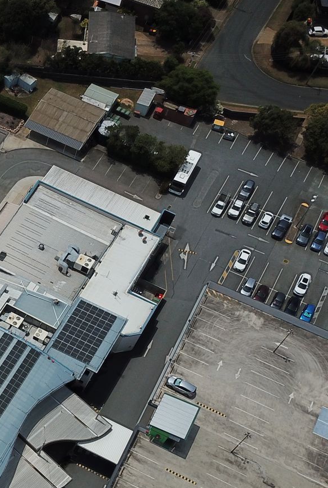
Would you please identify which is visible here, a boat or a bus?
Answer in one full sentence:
It is a bus that can be seen here.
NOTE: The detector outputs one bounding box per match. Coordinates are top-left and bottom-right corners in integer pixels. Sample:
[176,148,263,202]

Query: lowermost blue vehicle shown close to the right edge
[299,304,317,323]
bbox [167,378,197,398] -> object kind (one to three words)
car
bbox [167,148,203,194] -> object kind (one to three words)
bus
